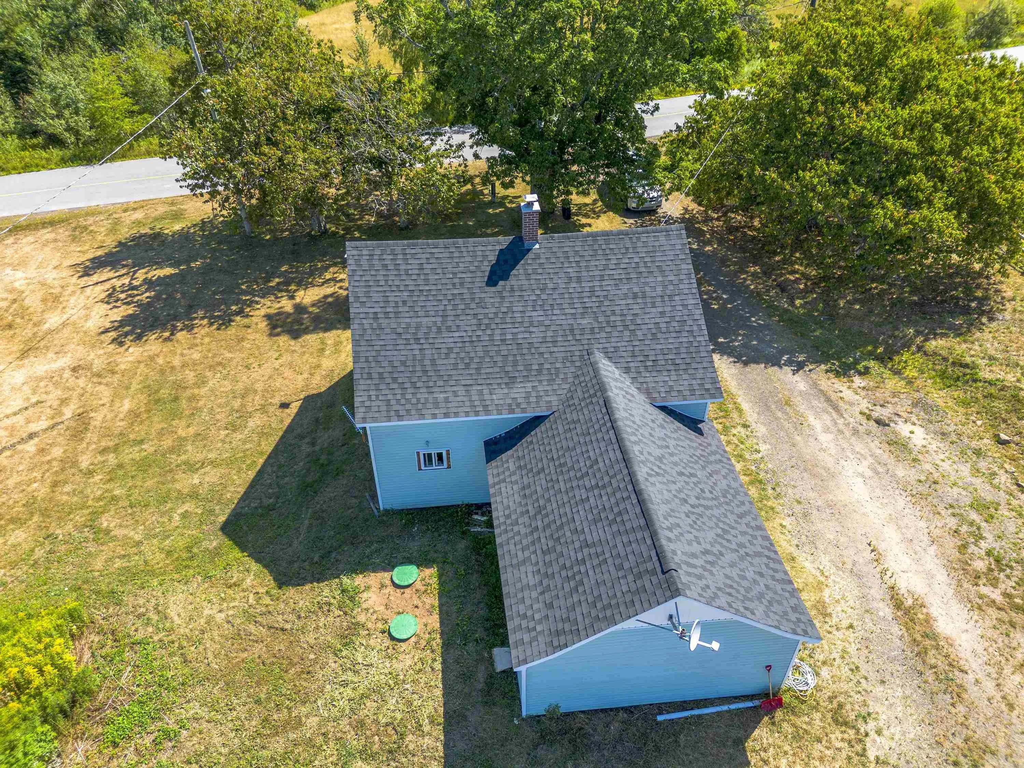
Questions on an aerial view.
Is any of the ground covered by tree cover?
Yes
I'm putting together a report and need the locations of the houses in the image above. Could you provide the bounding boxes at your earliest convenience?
[346,195,822,722]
